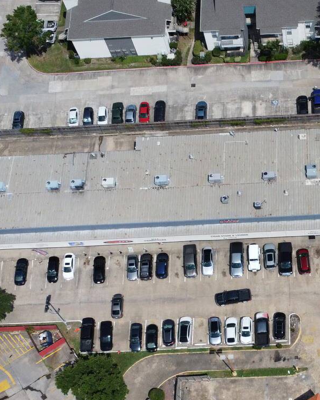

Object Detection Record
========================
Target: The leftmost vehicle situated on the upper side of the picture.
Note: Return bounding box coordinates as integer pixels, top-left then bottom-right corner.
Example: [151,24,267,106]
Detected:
[12,111,25,128]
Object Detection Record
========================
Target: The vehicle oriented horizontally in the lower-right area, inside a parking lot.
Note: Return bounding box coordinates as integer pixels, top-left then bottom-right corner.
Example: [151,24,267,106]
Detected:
[214,288,253,305]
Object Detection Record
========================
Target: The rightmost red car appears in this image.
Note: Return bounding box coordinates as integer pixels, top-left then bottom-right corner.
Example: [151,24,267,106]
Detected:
[296,249,310,275]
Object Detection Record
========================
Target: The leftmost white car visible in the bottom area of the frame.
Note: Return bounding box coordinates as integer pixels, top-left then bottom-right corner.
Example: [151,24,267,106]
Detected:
[61,253,76,281]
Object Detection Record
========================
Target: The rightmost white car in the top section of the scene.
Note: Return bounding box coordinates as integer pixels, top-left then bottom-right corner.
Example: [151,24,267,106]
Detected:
[96,106,109,124]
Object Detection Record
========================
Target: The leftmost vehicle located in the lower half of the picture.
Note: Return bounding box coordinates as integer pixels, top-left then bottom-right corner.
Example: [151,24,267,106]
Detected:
[15,260,29,286]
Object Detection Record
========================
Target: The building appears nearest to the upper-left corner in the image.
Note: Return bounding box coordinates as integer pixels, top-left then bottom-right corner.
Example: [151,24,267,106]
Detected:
[66,0,177,58]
